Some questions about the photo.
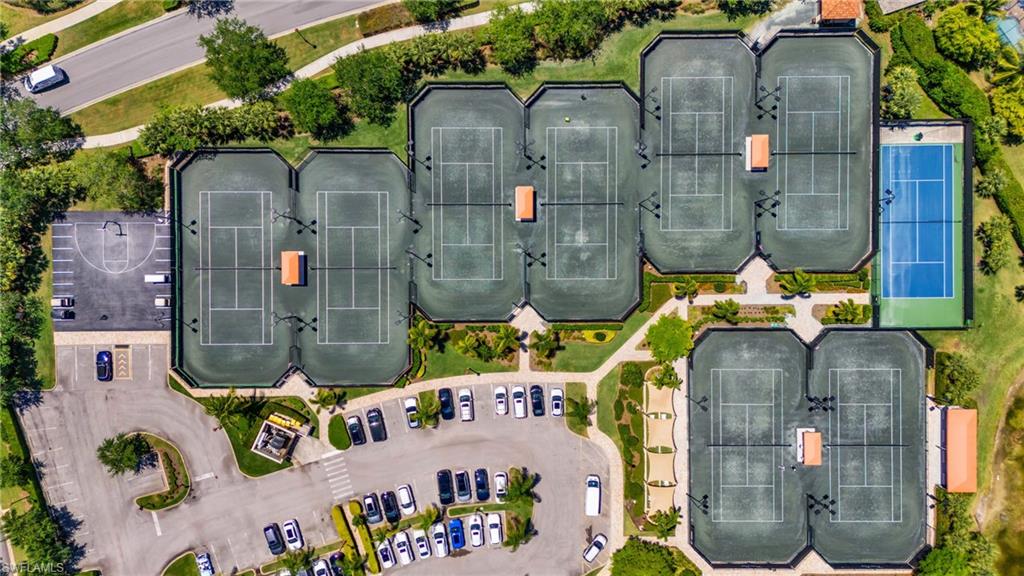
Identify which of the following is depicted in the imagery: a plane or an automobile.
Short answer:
automobile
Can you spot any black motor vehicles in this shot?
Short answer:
Yes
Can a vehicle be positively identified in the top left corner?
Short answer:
Yes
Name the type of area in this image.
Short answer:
sports ground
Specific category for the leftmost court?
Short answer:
basketball court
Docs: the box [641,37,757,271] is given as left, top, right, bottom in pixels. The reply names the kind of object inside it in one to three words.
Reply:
tennis court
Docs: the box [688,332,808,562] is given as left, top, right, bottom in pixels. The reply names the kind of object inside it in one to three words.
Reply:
tennis court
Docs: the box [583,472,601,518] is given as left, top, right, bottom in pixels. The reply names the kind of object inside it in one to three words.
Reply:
vehicle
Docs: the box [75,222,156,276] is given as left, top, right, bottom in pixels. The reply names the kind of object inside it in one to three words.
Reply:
basketball court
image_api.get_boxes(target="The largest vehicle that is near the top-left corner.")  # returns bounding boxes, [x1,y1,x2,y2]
[27,64,66,91]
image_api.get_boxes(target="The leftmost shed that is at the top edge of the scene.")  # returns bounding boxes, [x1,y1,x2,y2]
[810,0,863,30]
